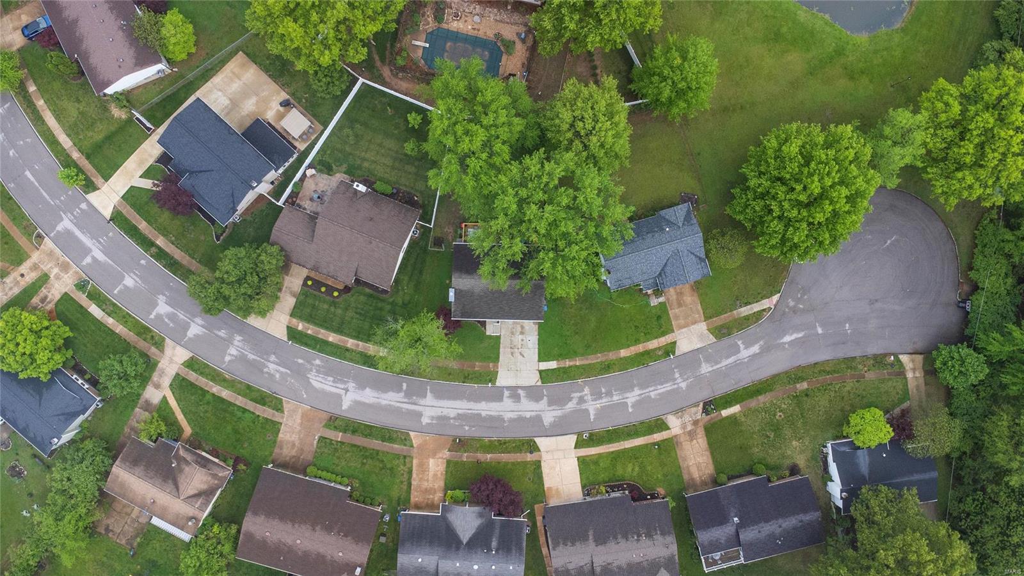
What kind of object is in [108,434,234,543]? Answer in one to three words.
house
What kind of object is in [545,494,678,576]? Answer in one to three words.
house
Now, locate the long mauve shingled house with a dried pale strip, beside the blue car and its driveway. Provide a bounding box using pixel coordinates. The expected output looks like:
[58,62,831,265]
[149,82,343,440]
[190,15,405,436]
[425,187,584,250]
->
[40,0,169,97]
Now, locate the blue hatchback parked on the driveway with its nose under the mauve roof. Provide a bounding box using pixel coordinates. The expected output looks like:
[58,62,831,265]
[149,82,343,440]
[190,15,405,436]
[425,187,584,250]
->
[18,14,50,36]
